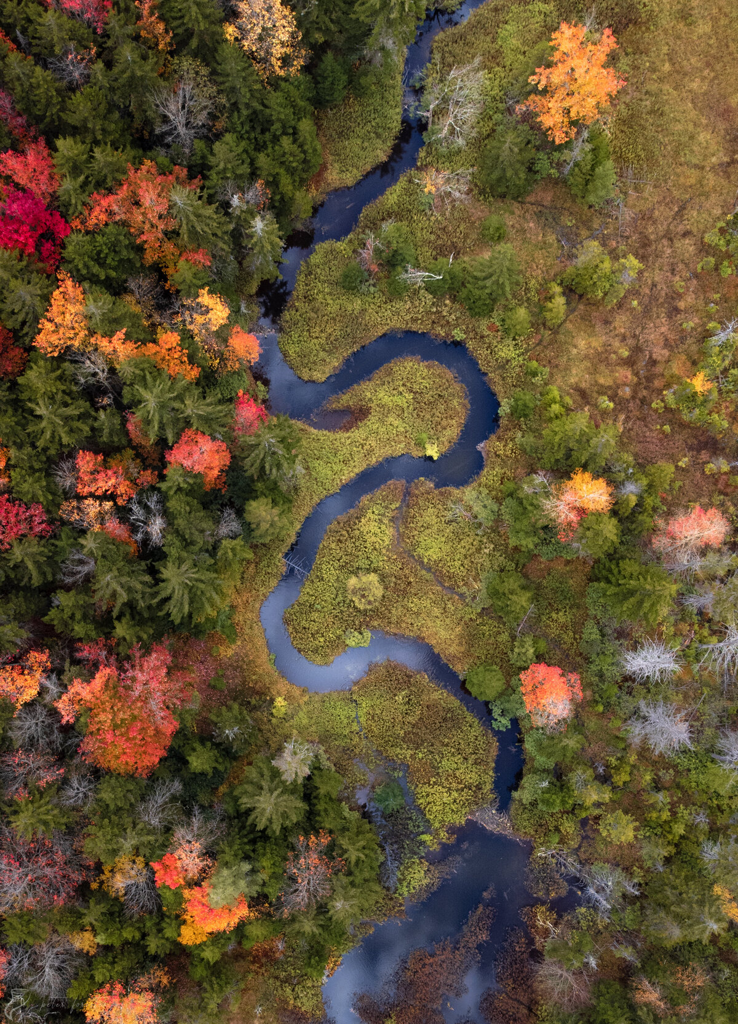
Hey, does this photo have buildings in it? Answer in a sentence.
No, there isn't any building down there.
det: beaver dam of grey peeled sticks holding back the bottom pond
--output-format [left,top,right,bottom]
[470,809,531,846]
